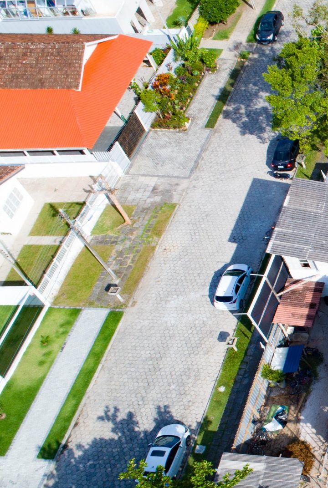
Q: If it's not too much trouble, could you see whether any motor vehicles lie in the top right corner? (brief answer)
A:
Yes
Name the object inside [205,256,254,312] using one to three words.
car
